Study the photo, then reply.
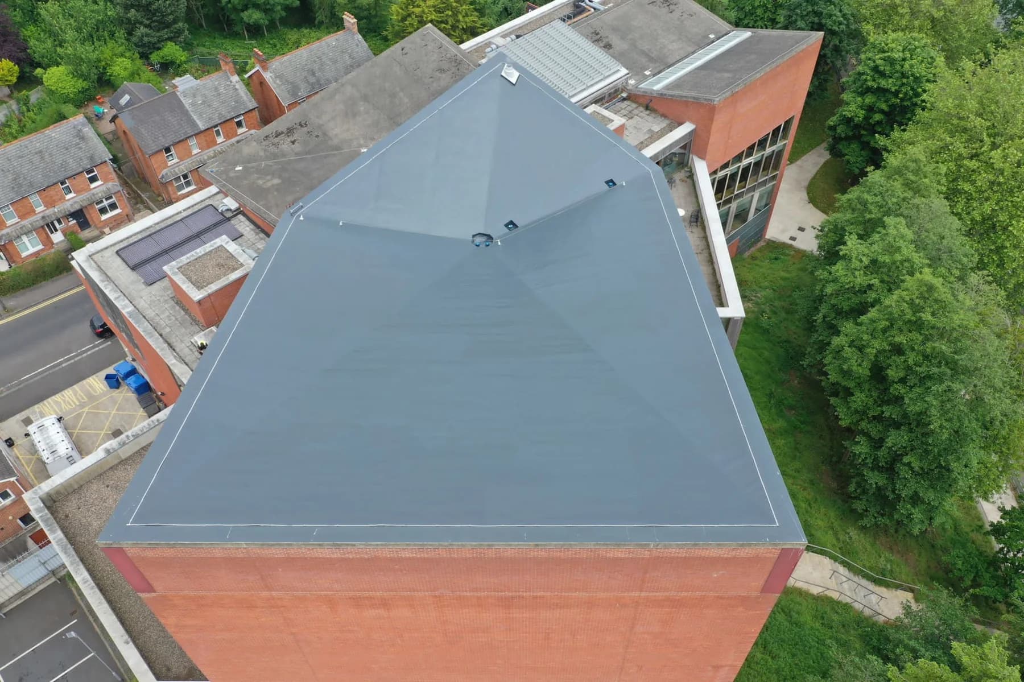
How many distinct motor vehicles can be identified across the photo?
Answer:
two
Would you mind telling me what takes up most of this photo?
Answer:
buildings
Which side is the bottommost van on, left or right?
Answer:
left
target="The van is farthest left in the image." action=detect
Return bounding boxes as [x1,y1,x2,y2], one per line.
[24,414,86,480]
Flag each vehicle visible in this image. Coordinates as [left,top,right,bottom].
[24,414,86,480]
[88,307,115,336]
